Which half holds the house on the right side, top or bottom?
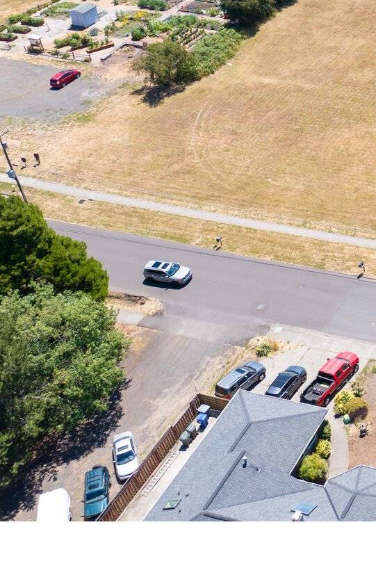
bottom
